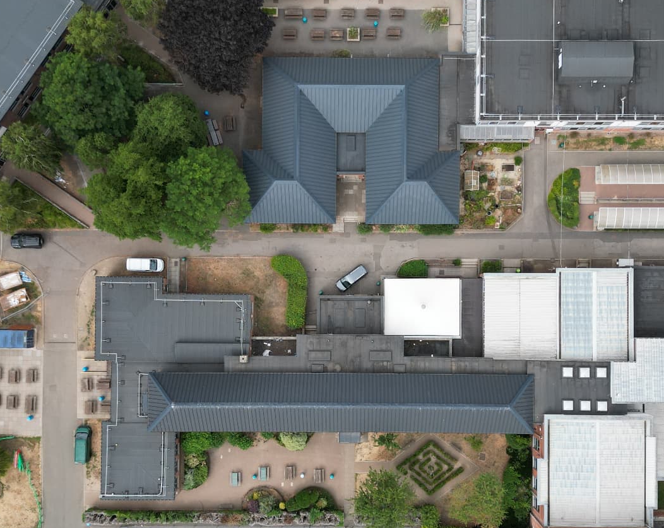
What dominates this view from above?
buildings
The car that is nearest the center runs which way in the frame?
on a diagonal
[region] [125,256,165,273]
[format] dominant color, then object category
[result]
white vehicle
